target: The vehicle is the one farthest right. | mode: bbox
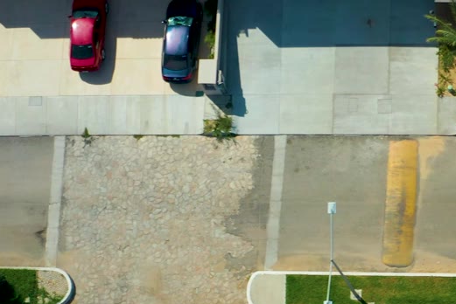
[159,0,202,85]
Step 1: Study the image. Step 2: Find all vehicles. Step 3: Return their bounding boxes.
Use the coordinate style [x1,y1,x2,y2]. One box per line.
[159,0,202,85]
[68,0,112,73]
